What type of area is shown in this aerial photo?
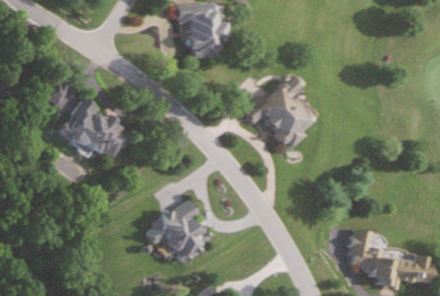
residential area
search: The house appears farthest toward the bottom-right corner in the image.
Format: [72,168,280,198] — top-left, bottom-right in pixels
[345,229,436,292]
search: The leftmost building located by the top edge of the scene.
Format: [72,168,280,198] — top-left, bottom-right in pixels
[174,0,232,60]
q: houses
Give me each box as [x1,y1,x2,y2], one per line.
[56,98,128,156]
[144,198,210,264]
[345,229,436,292]
[247,76,312,151]
[174,0,232,60]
